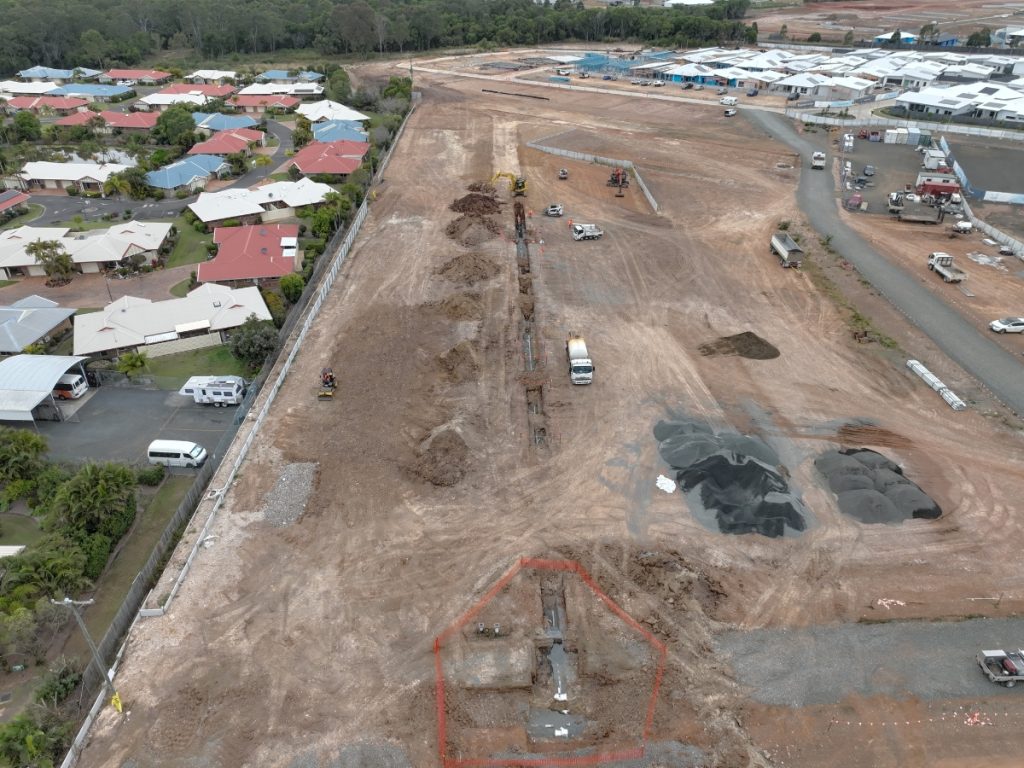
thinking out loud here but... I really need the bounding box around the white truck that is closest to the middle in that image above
[567,329,598,385]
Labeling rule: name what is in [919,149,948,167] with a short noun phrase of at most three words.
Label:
shed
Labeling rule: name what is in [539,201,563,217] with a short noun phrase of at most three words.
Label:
work vehicle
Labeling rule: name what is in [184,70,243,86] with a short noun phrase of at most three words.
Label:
house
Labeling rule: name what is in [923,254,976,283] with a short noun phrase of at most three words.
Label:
truck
